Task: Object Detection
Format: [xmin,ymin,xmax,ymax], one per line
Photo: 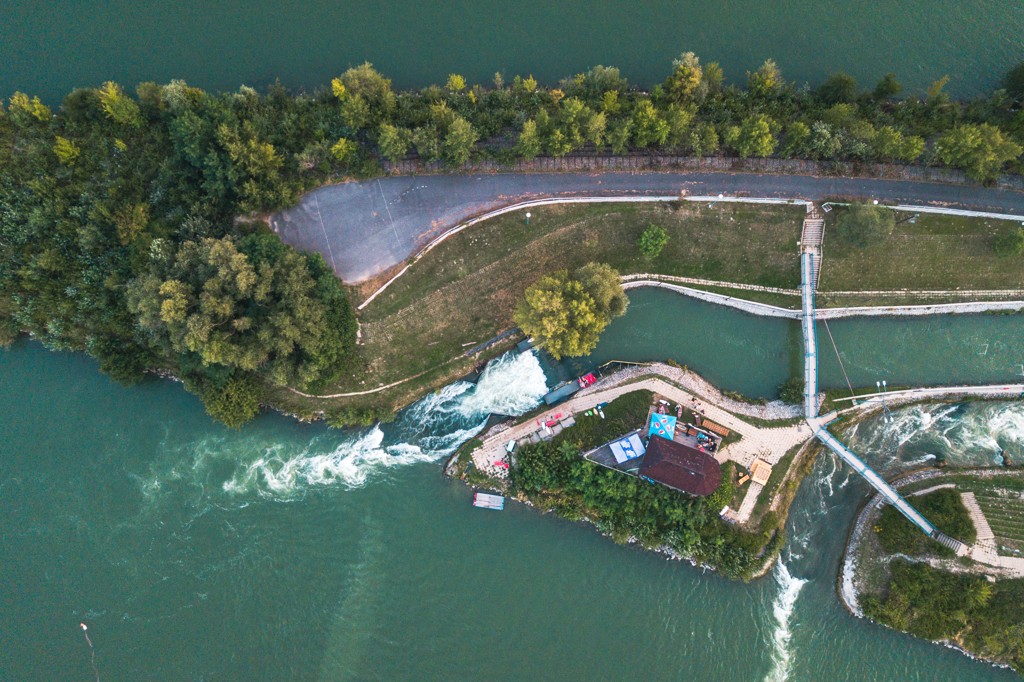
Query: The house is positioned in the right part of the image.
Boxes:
[638,435,722,495]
